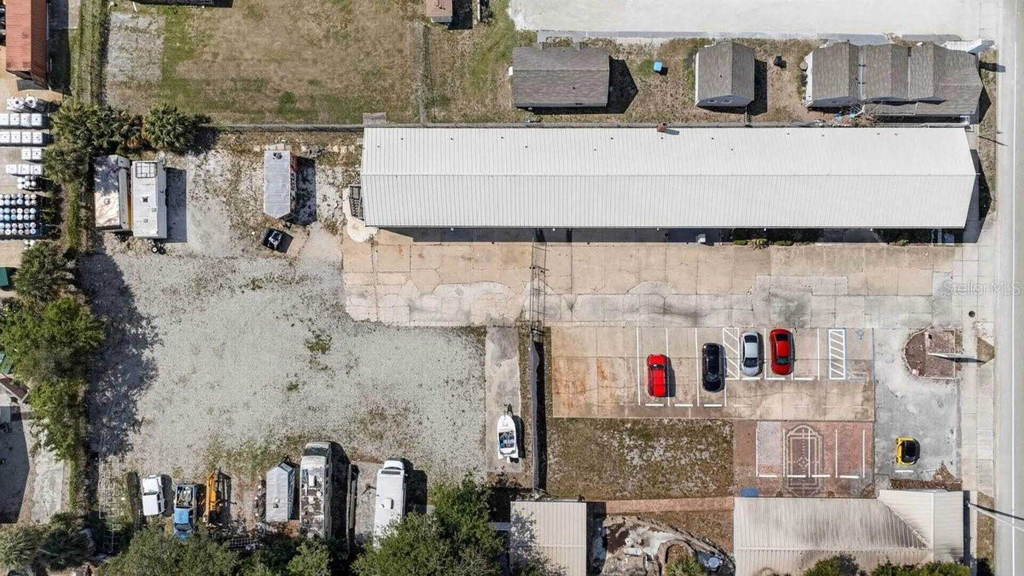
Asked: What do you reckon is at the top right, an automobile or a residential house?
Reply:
residential house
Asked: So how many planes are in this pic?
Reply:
0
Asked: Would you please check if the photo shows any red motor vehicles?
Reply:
Yes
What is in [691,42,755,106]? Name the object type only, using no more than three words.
house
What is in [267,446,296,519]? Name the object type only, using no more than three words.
trailer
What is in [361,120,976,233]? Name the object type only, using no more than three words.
building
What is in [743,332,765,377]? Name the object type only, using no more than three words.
car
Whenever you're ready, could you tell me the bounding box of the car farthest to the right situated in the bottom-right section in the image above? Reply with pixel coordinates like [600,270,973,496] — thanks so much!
[899,439,922,466]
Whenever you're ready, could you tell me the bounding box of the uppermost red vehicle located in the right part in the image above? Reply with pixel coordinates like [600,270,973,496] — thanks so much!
[773,329,796,375]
